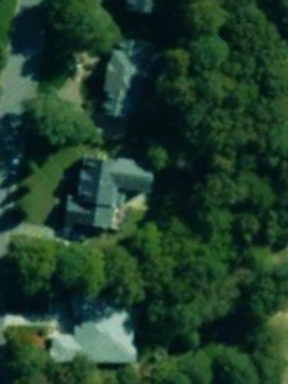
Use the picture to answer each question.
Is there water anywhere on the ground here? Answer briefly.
No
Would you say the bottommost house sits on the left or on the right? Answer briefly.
left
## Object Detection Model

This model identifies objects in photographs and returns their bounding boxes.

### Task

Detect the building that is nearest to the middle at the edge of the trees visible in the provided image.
[63,155,155,231]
